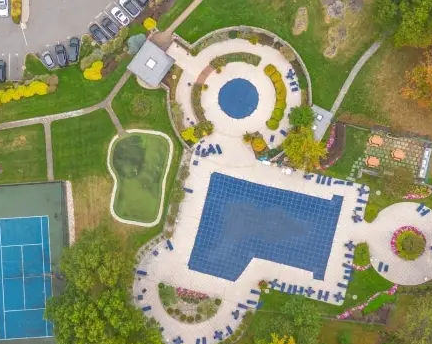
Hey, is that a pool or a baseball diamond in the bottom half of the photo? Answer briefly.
pool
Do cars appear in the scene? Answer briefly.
Yes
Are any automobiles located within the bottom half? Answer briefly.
No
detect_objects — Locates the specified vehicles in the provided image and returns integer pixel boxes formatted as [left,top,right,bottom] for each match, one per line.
[0,59,8,84]
[69,38,81,64]
[41,50,55,70]
[0,0,9,19]
[88,22,109,46]
[134,0,153,11]
[109,5,131,27]
[100,15,120,37]
[54,44,69,70]
[119,0,143,20]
